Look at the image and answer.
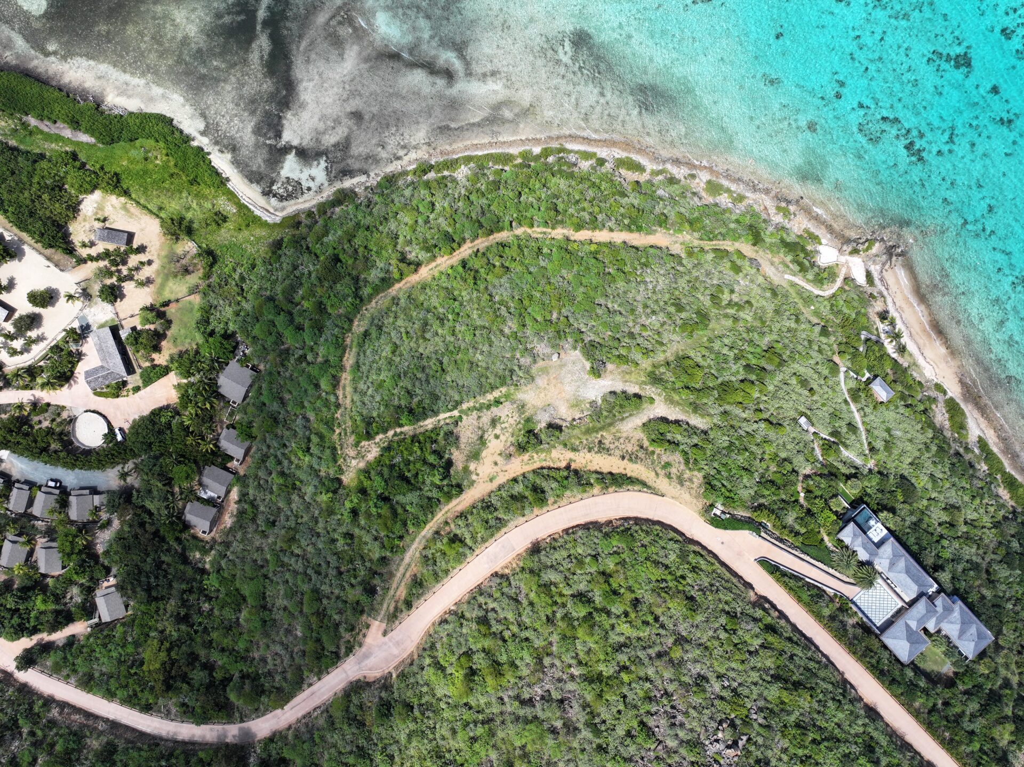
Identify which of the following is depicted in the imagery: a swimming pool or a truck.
swimming pool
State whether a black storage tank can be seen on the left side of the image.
No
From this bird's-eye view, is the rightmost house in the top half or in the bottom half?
bottom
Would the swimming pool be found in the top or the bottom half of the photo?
bottom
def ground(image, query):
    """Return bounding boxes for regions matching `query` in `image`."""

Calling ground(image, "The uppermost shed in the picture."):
[94,228,131,246]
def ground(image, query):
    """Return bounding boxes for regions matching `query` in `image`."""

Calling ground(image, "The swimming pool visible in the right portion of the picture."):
[851,504,898,546]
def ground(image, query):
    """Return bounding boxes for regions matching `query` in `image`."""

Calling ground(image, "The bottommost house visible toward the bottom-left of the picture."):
[96,585,128,623]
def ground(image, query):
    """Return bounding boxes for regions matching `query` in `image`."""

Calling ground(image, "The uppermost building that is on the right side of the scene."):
[867,377,895,402]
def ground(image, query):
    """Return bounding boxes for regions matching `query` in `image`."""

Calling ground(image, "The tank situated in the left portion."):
[71,411,113,449]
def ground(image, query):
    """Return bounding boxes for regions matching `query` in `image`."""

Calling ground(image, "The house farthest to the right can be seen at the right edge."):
[923,591,995,662]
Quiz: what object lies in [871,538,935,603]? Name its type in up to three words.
house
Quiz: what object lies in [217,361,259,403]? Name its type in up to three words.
house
